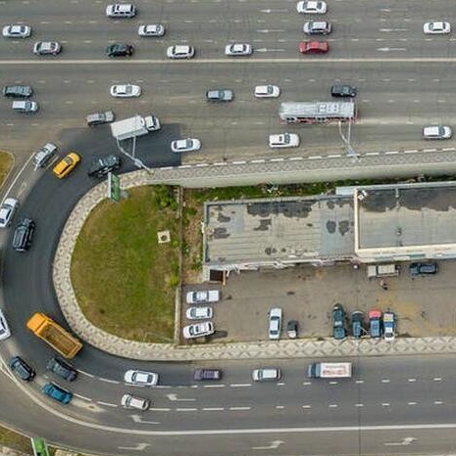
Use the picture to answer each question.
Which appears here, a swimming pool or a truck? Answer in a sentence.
The one in the frame is a truck.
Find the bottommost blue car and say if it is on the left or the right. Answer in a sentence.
It is on the left.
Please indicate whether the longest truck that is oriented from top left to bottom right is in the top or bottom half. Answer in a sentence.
The longest truck that is oriented from top left to bottom right is in the bottom half of the image.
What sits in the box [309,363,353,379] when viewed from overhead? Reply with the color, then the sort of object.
white vehicle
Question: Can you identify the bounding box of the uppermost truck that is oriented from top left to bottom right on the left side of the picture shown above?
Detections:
[28,314,80,357]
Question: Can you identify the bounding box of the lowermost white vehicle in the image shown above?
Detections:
[121,394,153,410]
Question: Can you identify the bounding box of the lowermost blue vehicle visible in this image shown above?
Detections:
[42,382,75,405]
